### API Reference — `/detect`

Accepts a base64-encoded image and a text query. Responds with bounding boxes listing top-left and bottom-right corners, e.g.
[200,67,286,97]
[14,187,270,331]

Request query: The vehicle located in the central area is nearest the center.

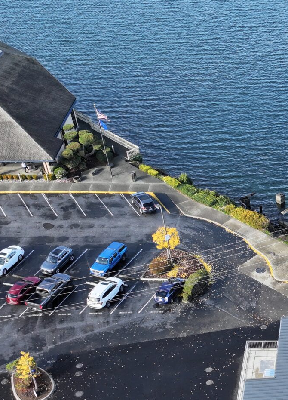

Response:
[128,188,157,214]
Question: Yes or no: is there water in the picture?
Yes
